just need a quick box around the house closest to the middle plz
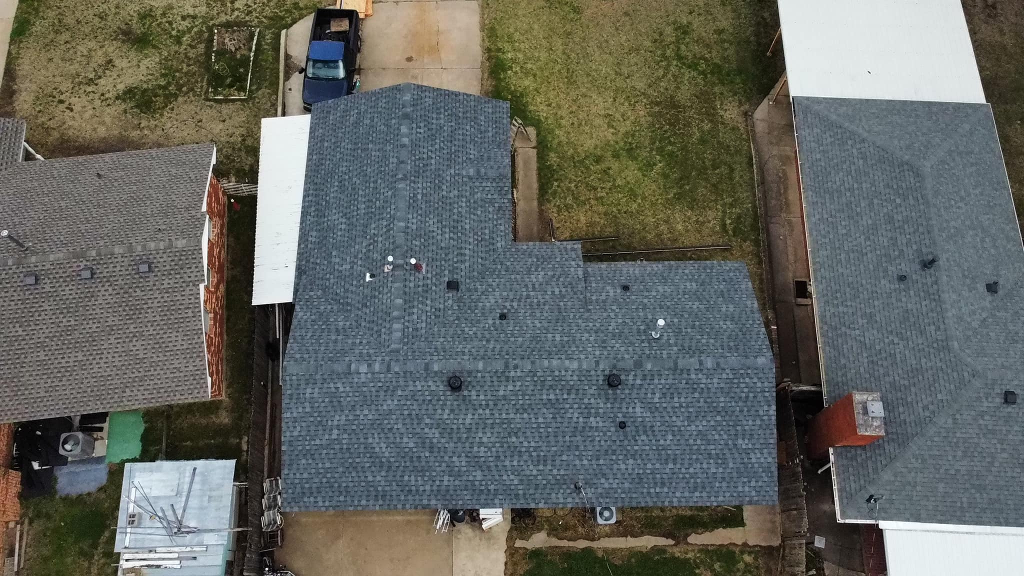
[280,83,779,512]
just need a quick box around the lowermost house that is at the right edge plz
[790,95,1024,533]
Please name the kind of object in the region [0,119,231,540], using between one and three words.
house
